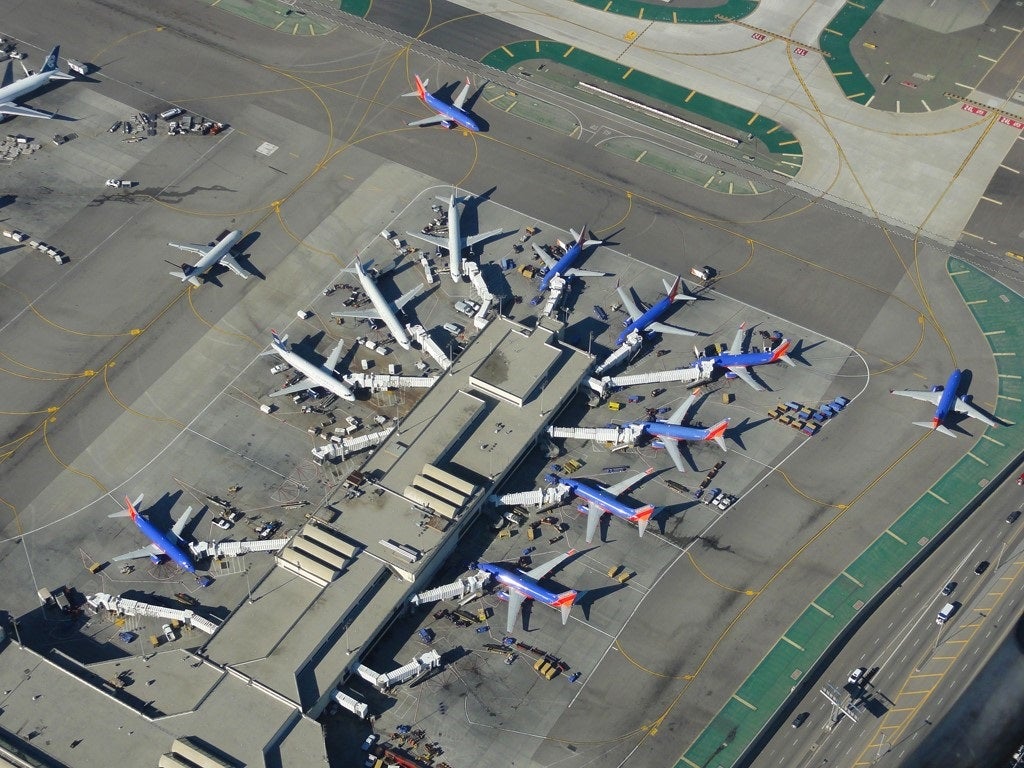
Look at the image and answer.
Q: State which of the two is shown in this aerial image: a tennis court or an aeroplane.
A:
aeroplane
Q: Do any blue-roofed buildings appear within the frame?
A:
No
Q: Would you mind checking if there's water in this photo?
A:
No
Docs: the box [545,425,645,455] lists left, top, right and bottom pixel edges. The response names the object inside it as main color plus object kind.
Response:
white jet bridge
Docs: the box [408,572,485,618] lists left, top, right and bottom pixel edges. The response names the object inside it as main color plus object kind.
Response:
white jet bridge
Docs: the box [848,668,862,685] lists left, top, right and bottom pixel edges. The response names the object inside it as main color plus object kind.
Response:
white car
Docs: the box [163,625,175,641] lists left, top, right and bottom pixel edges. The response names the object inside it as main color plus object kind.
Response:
white vehicle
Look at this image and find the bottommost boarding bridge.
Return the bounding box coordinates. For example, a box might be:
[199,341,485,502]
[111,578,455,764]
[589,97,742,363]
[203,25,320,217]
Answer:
[329,687,374,727]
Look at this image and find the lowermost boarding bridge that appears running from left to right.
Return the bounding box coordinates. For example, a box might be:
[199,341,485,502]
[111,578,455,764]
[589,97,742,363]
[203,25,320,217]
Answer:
[352,650,441,698]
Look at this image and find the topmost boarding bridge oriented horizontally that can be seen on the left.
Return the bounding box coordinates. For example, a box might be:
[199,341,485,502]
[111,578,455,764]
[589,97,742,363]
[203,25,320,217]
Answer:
[350,375,438,403]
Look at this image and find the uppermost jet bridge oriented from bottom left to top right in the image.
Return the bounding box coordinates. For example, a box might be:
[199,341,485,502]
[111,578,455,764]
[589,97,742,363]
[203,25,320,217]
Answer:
[592,337,636,391]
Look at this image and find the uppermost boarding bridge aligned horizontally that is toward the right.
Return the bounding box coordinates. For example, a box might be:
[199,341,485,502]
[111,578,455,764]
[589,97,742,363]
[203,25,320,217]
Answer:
[594,363,710,403]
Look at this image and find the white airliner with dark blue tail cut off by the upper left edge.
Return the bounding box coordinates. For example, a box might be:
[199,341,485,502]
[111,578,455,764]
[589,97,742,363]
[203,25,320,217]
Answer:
[0,47,76,126]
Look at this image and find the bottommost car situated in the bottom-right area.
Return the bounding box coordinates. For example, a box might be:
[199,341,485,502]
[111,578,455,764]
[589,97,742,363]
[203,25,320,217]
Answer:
[791,713,806,730]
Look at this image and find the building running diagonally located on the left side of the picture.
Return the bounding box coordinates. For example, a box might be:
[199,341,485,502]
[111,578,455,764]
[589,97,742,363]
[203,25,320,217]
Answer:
[196,315,596,725]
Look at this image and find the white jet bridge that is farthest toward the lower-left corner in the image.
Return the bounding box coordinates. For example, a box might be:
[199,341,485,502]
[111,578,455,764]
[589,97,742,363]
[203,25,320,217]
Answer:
[87,598,218,636]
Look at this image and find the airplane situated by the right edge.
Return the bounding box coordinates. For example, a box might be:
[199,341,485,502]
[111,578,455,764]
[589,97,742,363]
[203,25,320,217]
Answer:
[889,370,999,438]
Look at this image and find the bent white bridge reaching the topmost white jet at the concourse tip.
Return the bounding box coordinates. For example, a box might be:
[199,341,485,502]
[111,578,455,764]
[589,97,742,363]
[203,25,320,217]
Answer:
[463,261,491,341]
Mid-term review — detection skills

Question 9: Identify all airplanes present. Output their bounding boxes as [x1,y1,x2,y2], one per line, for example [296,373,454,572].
[0,47,76,126]
[622,387,731,472]
[331,251,424,351]
[691,321,796,390]
[616,275,702,346]
[531,223,605,295]
[478,548,589,634]
[258,330,356,402]
[406,194,502,284]
[108,493,196,574]
[889,370,999,438]
[402,74,480,132]
[167,230,248,286]
[559,467,666,544]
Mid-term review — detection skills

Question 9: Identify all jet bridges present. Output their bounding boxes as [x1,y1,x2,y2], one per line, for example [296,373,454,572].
[329,687,374,727]
[542,279,565,320]
[594,363,710,403]
[310,428,395,467]
[87,598,218,636]
[592,337,636,391]
[545,425,645,455]
[463,261,491,341]
[352,650,441,698]
[408,572,485,618]
[406,325,453,375]
[189,540,287,571]
[491,485,569,519]
[350,375,438,403]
